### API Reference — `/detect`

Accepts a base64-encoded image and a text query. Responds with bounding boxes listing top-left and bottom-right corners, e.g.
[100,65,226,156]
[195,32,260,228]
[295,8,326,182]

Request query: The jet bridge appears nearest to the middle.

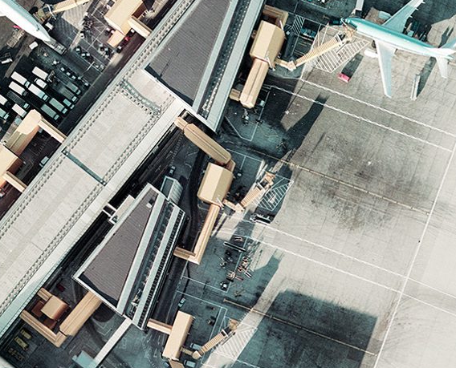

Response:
[223,168,275,212]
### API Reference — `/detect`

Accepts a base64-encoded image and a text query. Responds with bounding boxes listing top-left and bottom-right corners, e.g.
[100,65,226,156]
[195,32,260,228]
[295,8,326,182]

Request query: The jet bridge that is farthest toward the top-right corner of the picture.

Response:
[280,27,351,73]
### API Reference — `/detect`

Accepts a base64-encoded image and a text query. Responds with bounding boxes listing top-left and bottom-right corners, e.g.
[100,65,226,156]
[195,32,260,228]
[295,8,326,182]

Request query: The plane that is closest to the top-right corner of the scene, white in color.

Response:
[342,0,455,95]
